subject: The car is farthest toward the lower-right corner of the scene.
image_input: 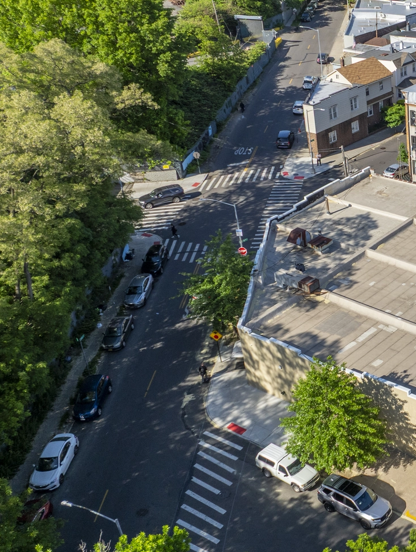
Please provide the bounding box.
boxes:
[307,470,390,531]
